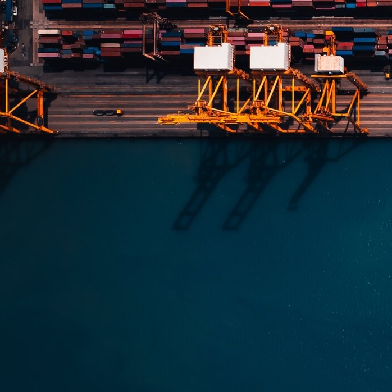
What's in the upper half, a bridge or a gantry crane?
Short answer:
gantry crane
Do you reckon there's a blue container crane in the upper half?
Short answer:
No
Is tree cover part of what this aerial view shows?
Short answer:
No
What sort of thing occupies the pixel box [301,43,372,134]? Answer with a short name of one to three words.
container crane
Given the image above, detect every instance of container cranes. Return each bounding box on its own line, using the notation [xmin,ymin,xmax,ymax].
[0,53,59,136]
[301,43,372,134]
[140,9,177,66]
[151,32,267,135]
[220,31,319,135]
